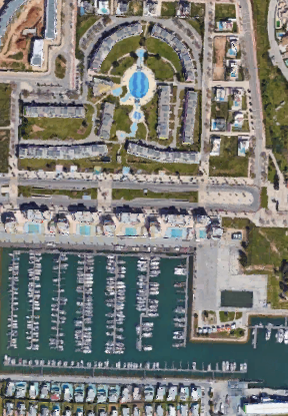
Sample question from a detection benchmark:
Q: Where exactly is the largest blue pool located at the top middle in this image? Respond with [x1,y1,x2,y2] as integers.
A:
[129,70,148,98]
